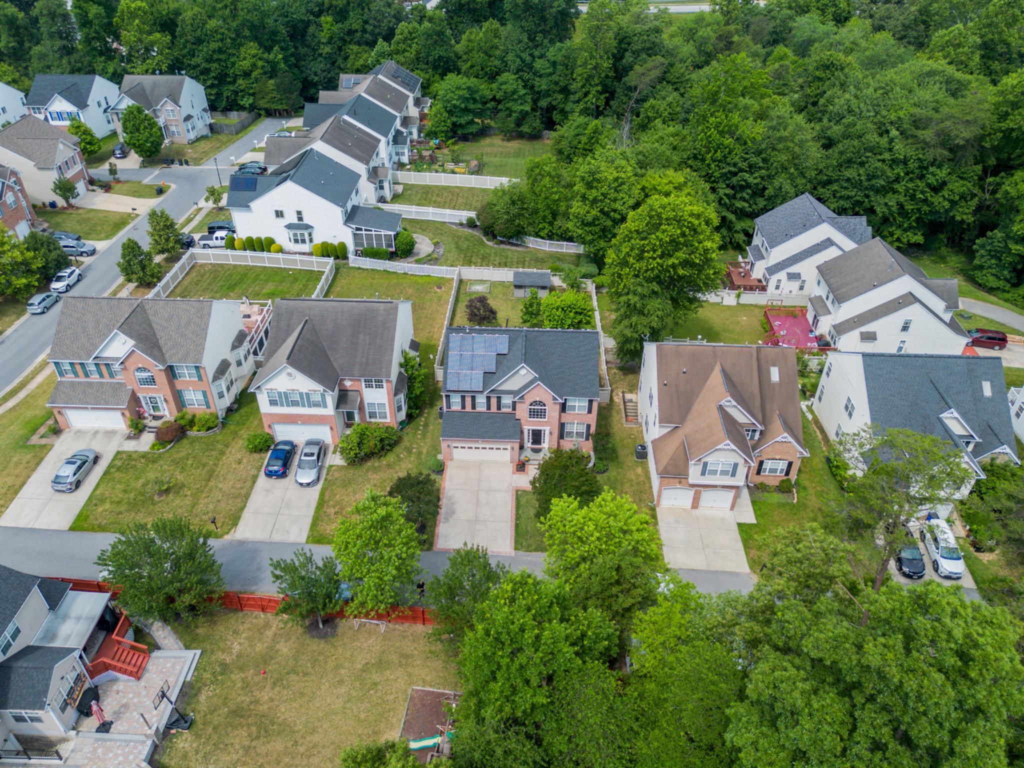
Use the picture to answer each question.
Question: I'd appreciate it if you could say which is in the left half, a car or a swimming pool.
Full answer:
It is a car that can be seen in the left half.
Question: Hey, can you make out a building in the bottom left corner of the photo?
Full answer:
Yes, a building is visible in the bottom left corner of the photo.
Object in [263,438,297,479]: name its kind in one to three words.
car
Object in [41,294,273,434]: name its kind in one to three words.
house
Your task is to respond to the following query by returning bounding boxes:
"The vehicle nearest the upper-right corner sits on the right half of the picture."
[956,325,1015,350]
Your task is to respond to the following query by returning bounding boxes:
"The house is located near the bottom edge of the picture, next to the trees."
[0,563,152,760]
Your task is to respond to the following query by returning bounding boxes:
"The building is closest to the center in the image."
[438,305,600,472]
